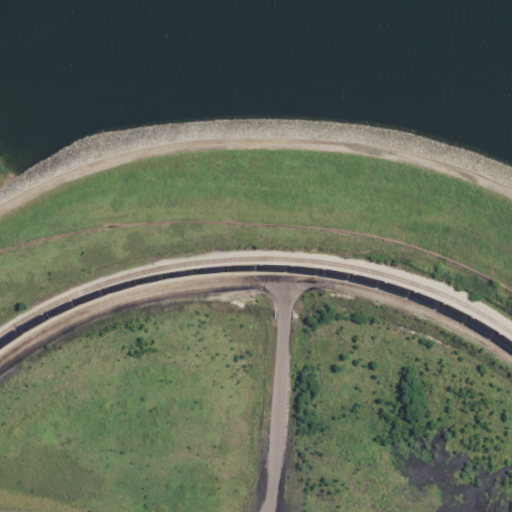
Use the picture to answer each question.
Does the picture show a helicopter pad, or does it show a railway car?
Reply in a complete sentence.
Of the two, only a railway car appears.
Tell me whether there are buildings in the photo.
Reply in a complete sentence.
No, the picture doesn't show any building.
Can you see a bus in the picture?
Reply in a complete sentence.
No, the frame has no bus in it.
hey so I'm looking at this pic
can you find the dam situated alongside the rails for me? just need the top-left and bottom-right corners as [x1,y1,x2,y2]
[0,118,512,288]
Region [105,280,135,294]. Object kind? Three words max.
rail car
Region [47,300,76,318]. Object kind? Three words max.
rail car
